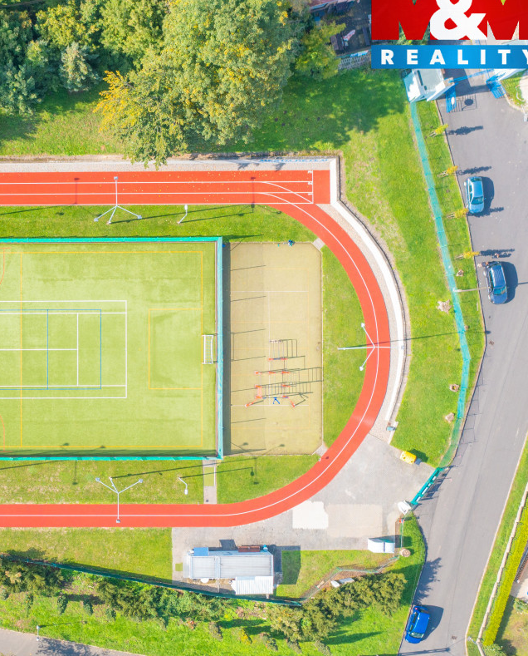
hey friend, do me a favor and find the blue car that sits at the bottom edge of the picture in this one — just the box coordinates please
[403,605,430,642]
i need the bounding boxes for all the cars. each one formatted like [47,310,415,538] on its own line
[482,262,508,305]
[464,175,486,215]
[403,605,430,642]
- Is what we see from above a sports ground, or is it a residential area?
sports ground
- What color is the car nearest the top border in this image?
blue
